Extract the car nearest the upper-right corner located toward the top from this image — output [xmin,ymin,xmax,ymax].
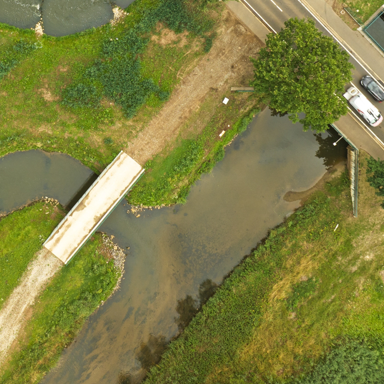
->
[358,76,384,104]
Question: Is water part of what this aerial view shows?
Yes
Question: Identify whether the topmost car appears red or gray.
gray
